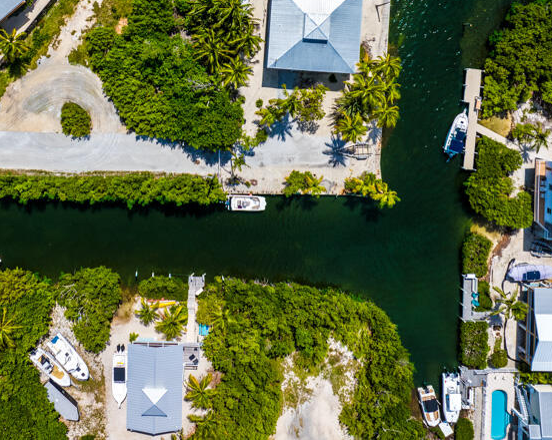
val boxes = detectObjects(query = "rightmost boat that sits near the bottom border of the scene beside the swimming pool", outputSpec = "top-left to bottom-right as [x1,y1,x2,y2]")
[441,369,462,423]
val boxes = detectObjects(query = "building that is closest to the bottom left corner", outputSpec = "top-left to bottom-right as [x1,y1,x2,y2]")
[127,334,200,436]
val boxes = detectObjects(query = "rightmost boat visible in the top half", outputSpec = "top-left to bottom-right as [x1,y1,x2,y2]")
[441,110,468,158]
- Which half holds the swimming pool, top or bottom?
bottom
